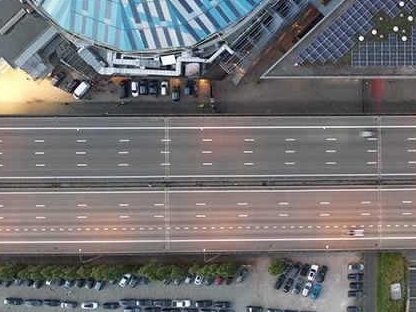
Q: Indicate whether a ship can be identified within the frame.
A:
No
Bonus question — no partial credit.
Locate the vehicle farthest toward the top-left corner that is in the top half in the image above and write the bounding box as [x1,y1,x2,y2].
[53,70,66,85]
